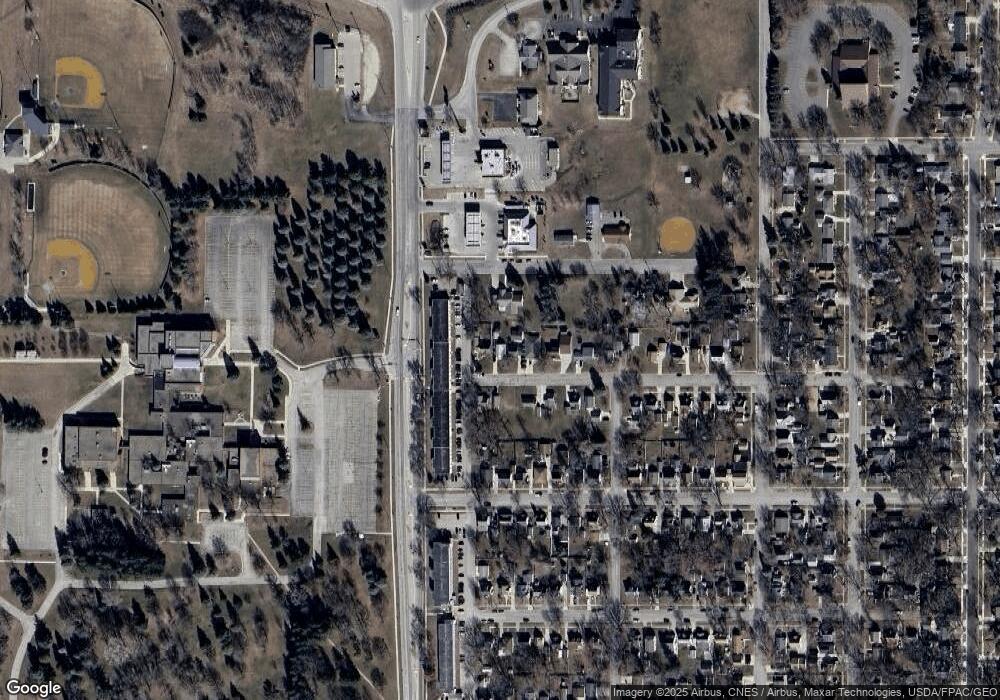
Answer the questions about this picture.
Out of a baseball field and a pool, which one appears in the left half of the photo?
baseball field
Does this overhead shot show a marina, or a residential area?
residential area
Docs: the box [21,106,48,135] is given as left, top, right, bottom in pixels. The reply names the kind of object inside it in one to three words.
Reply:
building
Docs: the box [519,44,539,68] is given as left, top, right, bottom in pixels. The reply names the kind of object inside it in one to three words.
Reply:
house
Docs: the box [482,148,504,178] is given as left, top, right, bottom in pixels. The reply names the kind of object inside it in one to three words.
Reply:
building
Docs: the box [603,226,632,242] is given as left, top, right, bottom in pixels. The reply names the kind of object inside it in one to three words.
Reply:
house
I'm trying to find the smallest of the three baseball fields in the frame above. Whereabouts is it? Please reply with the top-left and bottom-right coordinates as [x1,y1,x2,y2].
[660,217,695,253]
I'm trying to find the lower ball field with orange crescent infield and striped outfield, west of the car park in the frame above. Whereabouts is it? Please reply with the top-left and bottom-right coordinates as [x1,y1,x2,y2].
[36,163,170,301]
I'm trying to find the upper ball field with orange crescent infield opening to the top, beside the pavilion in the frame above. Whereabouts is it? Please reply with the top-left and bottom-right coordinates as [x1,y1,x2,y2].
[40,0,174,135]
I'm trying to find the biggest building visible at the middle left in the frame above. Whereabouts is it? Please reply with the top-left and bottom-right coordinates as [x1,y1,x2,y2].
[63,322,279,515]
